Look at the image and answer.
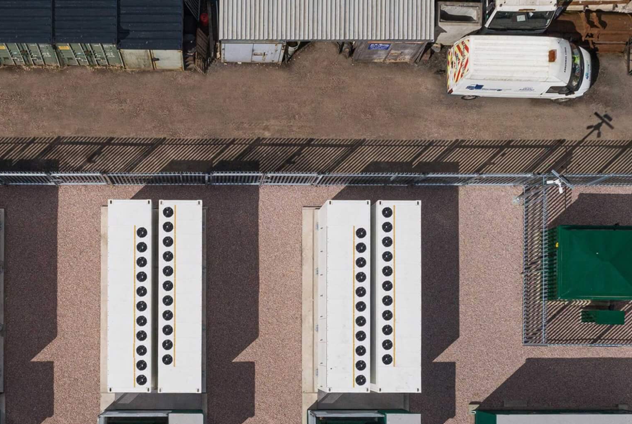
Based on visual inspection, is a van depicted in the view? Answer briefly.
Yes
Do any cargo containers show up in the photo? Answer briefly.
Yes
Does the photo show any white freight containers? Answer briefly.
Yes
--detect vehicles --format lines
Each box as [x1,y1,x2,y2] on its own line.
[448,34,590,102]
[472,0,565,35]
